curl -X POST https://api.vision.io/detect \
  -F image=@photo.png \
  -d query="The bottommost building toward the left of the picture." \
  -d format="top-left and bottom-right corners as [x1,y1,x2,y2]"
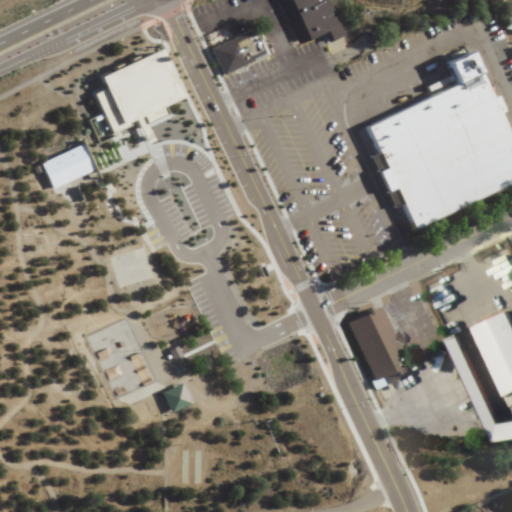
[163,385,194,412]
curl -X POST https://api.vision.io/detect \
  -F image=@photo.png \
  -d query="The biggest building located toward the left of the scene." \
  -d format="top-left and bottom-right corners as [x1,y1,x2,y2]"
[96,50,189,142]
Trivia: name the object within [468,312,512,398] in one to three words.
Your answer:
building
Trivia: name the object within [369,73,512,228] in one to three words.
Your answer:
building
